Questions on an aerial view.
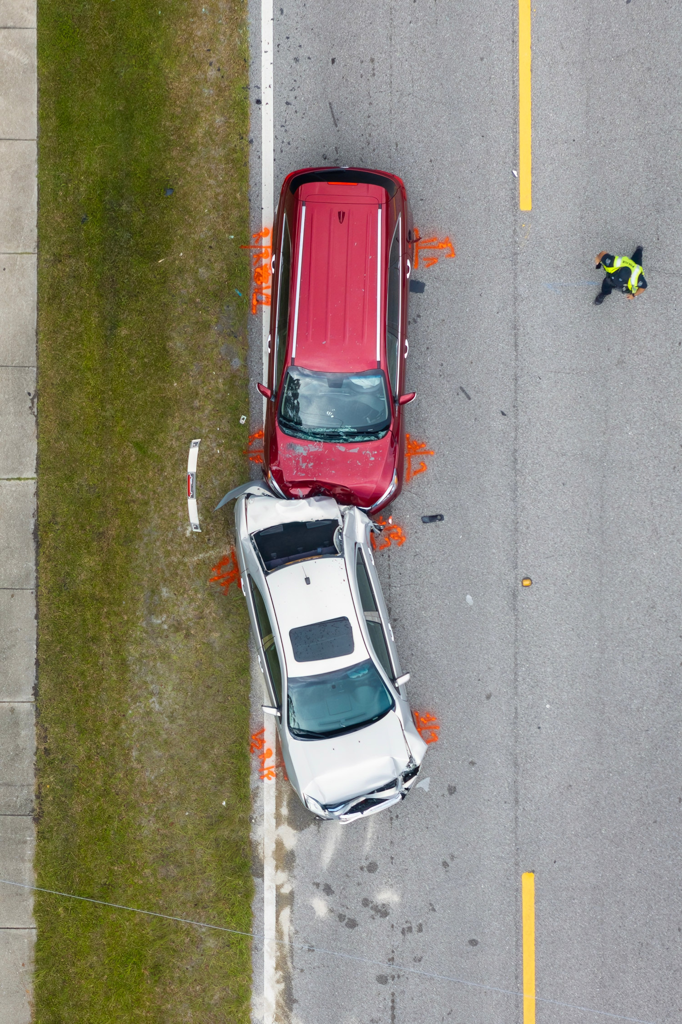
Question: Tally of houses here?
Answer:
0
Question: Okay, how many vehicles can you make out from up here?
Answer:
2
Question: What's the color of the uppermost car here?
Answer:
red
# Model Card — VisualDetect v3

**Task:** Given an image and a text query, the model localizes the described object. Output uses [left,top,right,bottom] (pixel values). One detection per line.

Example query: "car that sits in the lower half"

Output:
[213,477,428,824]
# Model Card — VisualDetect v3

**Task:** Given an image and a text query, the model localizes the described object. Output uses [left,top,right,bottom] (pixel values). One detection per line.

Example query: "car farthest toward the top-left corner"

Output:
[254,165,416,515]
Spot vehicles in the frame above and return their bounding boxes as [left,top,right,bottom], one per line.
[213,477,428,824]
[254,165,416,515]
